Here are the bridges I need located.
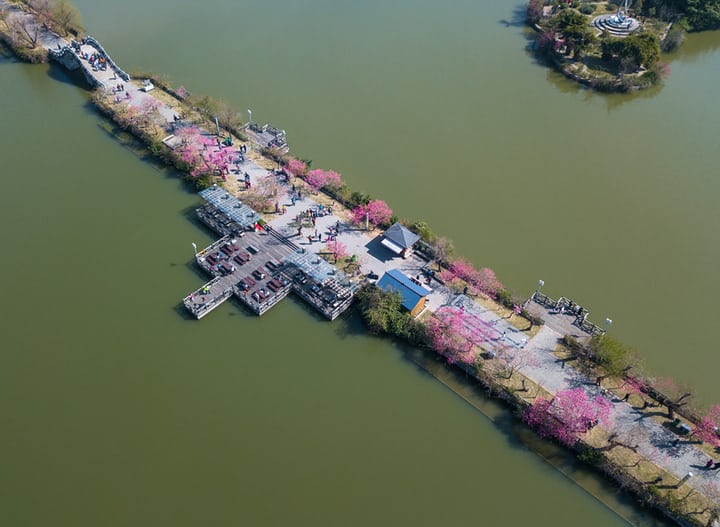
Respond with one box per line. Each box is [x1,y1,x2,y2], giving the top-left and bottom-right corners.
[46,39,134,91]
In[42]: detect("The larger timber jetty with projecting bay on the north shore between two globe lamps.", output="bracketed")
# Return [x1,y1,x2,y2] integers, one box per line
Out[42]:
[522,291,605,351]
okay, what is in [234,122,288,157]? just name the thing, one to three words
pier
